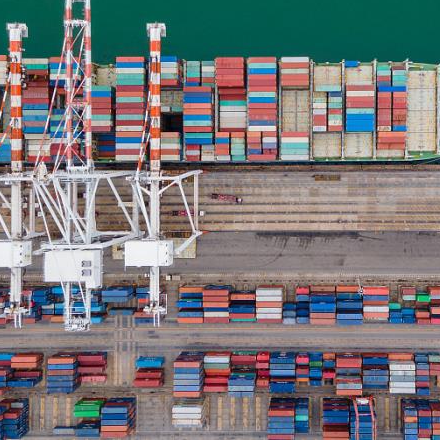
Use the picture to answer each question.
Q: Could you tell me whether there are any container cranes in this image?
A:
Yes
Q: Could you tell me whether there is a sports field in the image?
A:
No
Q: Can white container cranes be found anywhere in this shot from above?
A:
Yes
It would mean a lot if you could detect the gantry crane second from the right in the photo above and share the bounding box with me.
[126,22,212,321]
